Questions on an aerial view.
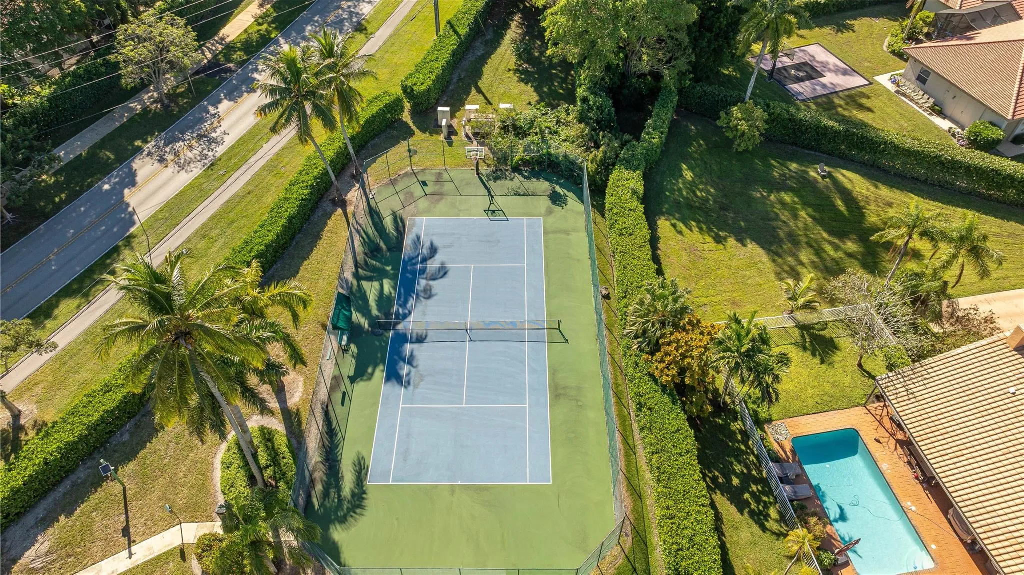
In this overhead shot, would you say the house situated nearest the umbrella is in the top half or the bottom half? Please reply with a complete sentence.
You can find the house situated nearest the umbrella in the bottom half.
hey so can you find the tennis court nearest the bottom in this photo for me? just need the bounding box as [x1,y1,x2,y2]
[303,168,615,575]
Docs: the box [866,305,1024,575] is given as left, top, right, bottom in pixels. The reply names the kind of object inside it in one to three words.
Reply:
house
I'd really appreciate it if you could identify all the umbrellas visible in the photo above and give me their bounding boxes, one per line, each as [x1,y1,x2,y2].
[835,540,860,562]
